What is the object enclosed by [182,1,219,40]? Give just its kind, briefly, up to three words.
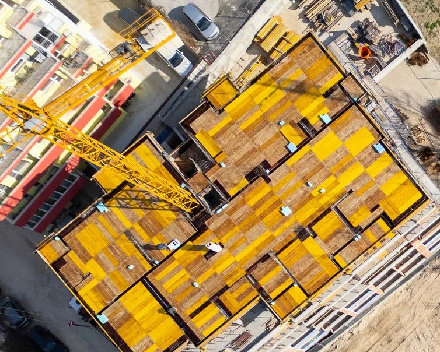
car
